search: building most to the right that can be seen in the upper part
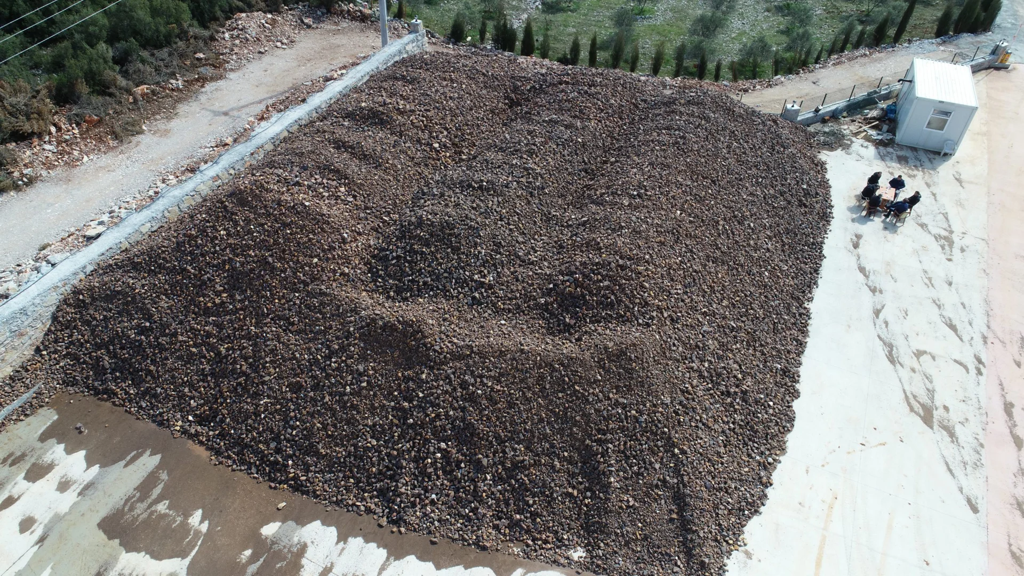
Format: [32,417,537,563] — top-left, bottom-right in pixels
[896,57,978,154]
